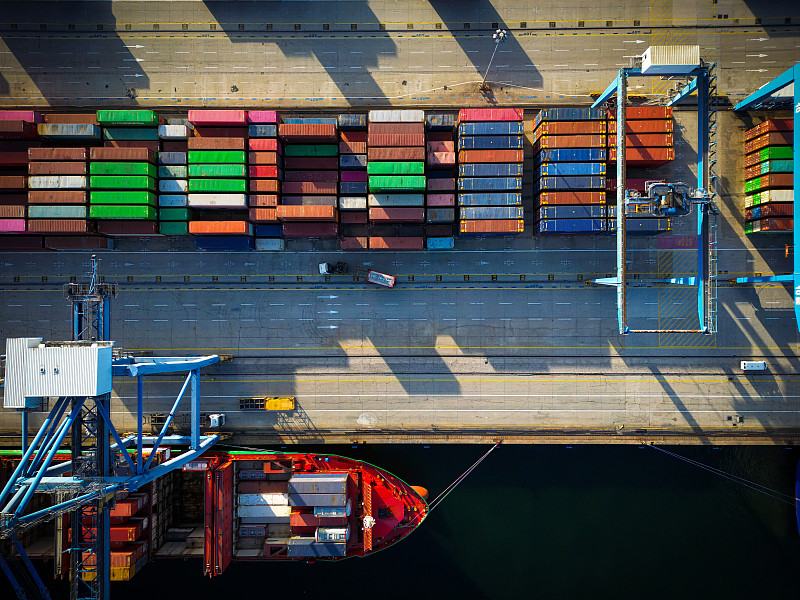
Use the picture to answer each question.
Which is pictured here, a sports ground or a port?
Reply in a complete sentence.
It's a port.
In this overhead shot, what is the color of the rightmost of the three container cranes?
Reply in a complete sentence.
The color of the rightmost of the three container cranes is blue.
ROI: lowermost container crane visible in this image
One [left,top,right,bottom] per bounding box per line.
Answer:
[0,252,241,600]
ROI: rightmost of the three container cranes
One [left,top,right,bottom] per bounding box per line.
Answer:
[729,66,800,333]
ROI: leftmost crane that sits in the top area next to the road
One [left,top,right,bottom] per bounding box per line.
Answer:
[578,45,722,336]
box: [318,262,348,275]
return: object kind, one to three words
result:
vehicle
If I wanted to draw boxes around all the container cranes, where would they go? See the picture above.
[578,45,722,336]
[0,252,241,600]
[729,66,800,333]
